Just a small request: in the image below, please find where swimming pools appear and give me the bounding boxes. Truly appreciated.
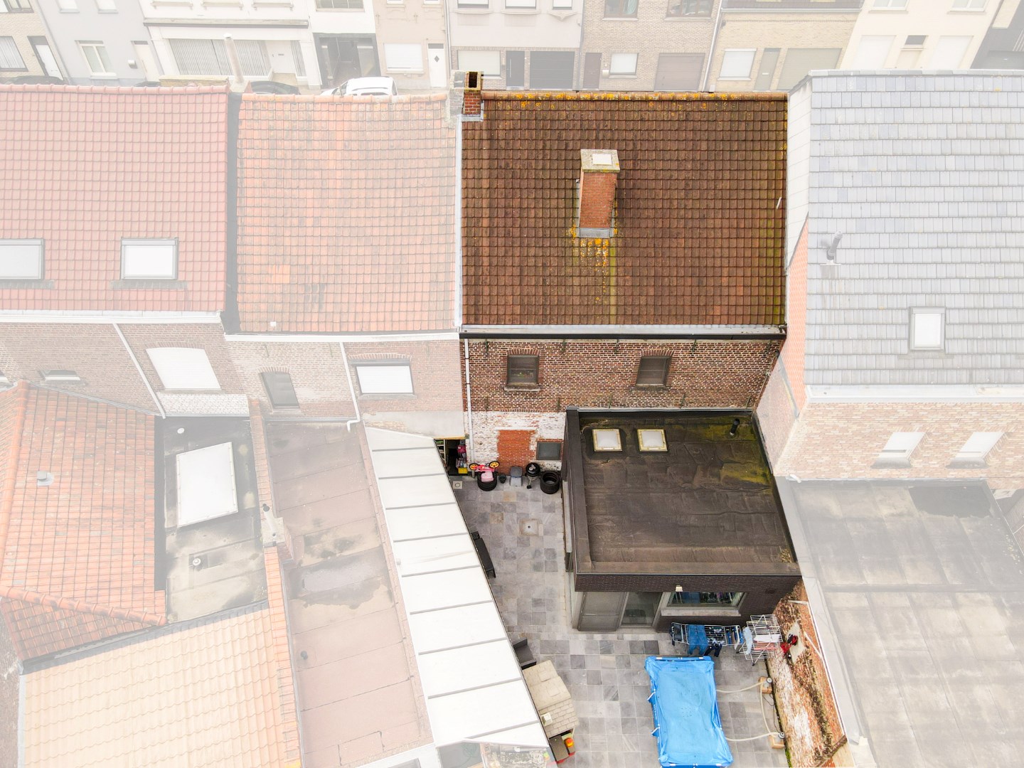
[637,655,735,768]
